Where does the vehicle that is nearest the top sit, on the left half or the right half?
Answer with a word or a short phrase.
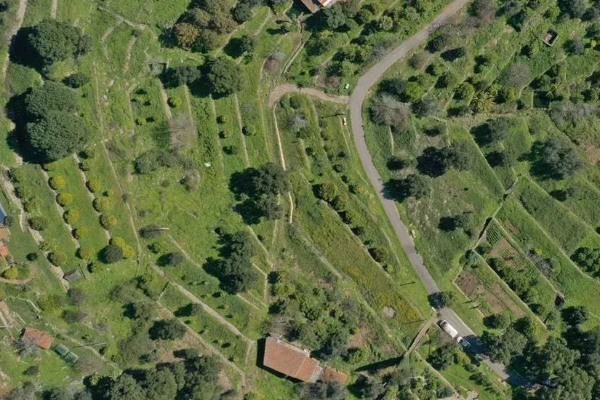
right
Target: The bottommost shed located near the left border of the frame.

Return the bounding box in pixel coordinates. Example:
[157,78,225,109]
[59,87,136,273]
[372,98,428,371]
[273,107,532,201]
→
[22,326,59,350]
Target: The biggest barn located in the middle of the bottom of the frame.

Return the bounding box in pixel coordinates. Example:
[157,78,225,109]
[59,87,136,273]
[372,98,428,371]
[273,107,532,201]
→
[264,334,325,382]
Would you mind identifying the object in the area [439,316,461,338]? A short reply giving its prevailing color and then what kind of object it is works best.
white vehicle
